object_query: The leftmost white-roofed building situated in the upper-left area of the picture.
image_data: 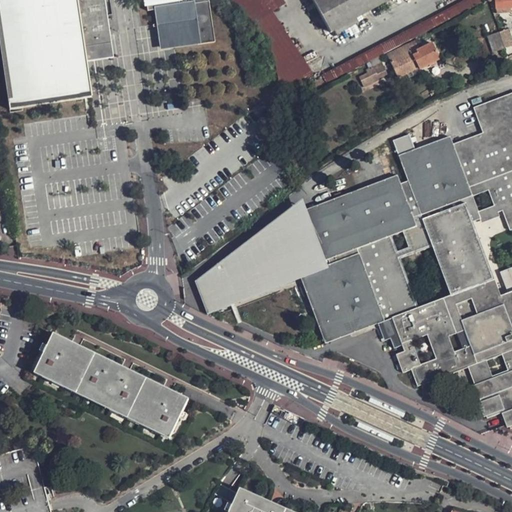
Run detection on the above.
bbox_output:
[0,0,94,114]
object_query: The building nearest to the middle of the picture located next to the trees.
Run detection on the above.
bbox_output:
[194,199,328,316]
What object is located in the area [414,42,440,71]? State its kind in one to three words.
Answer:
house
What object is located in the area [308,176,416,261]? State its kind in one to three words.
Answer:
building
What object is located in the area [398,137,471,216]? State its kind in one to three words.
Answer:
building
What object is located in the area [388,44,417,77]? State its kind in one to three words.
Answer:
house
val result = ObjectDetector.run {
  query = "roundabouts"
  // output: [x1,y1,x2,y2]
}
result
[126,278,168,321]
